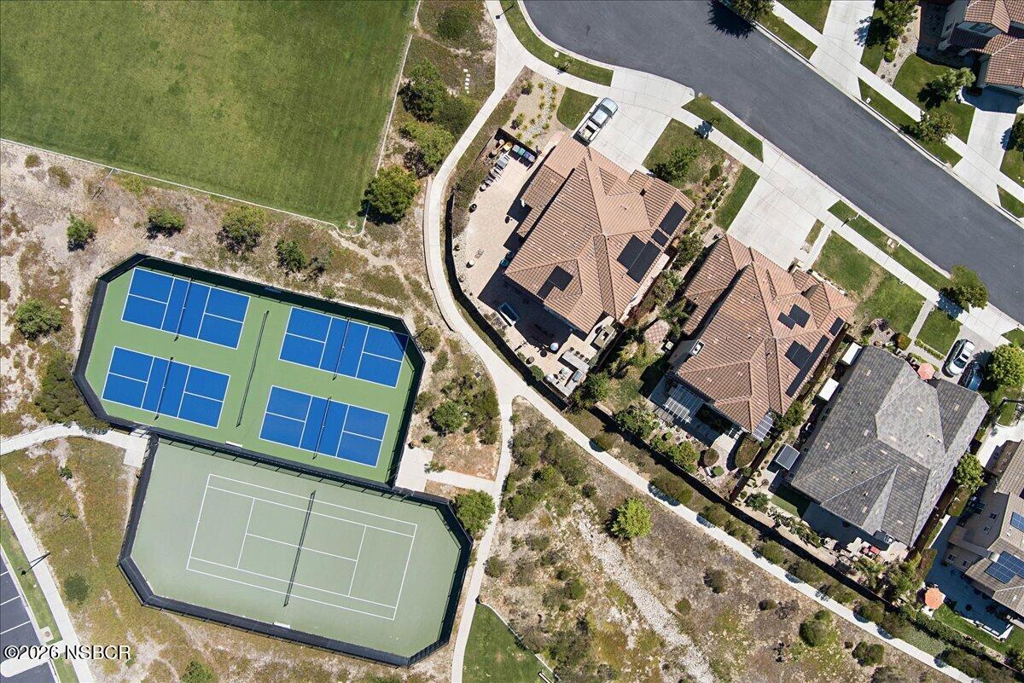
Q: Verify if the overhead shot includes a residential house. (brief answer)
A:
Yes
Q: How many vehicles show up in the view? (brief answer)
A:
3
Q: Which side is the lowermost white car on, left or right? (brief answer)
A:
right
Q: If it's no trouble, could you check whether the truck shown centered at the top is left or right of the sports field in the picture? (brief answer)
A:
right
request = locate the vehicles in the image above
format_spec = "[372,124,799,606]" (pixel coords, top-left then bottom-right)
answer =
[956,354,992,391]
[577,96,617,145]
[943,334,980,378]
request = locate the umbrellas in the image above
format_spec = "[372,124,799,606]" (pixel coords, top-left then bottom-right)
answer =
[913,362,933,380]
[920,587,941,607]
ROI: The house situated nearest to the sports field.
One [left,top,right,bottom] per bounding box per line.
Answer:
[505,134,695,333]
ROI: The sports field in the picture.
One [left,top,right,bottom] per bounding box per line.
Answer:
[0,0,421,237]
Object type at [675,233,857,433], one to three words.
house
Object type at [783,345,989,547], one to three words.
house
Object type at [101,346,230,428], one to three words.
sports court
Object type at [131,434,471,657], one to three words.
tennis court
